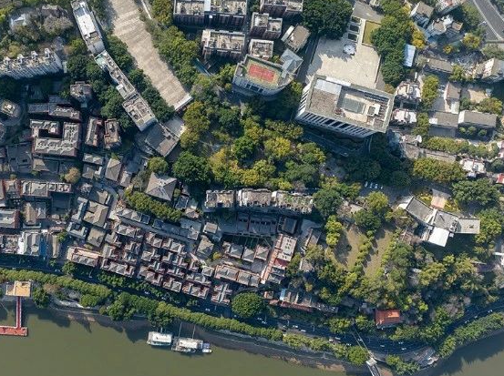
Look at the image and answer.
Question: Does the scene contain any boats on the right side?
No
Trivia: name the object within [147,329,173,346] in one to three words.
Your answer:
boat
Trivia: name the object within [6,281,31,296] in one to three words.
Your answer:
building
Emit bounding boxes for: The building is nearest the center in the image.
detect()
[234,190,273,210]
